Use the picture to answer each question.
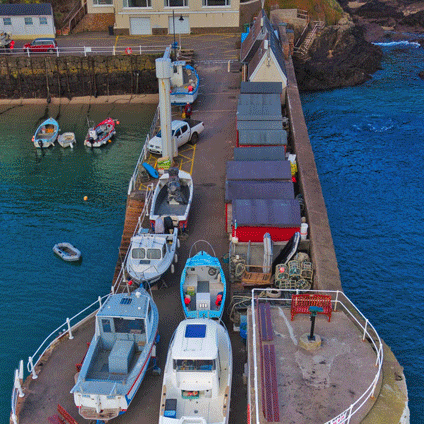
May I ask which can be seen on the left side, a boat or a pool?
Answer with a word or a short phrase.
boat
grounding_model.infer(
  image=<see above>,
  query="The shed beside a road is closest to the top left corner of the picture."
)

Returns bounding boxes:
[0,1,63,36]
